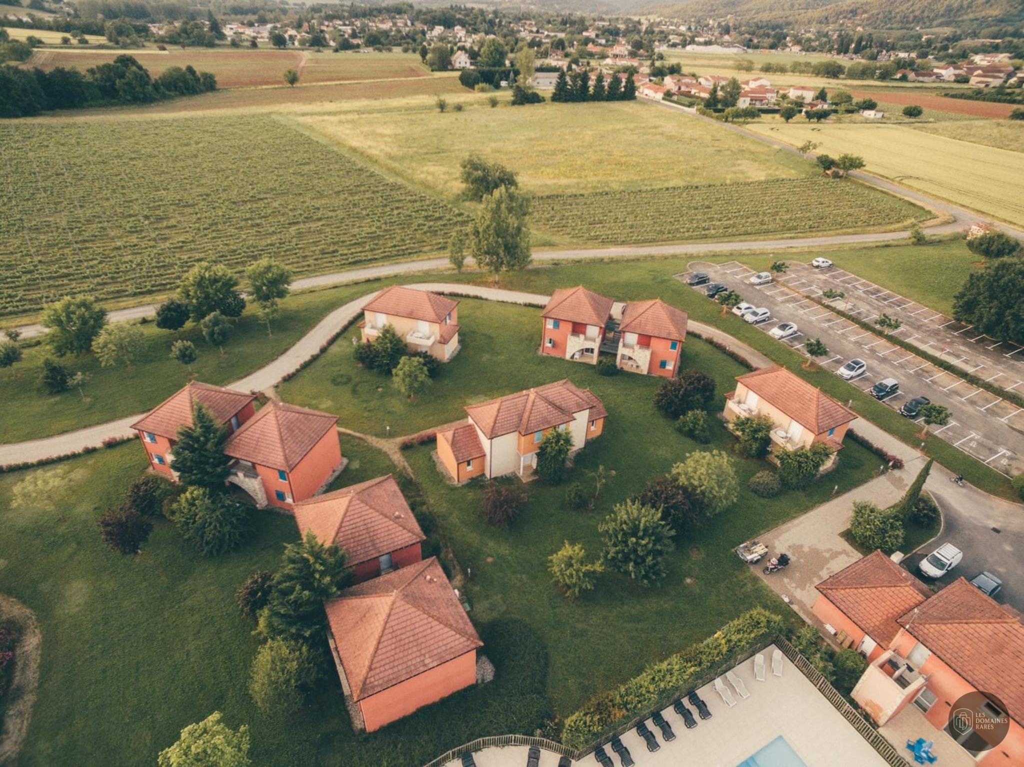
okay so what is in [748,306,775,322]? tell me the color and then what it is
white car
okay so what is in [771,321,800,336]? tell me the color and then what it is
white car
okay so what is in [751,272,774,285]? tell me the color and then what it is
white vehicle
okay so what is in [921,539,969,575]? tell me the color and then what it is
white van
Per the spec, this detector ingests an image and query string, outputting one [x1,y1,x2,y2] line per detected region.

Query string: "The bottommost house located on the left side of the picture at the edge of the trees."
[325,553,481,733]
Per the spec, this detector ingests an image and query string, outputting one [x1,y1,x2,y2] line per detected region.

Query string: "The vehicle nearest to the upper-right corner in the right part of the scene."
[813,258,835,270]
